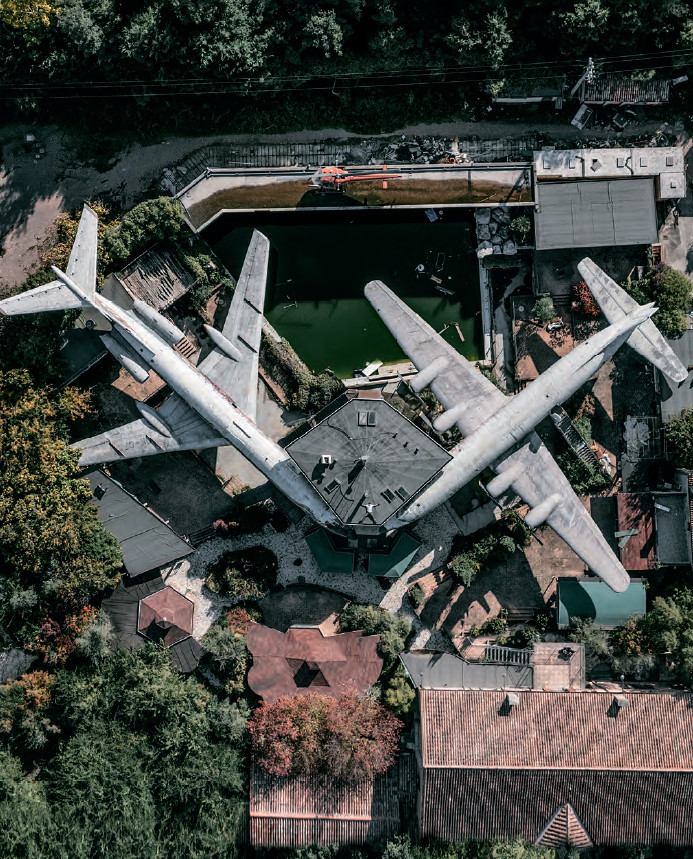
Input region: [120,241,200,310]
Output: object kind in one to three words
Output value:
shed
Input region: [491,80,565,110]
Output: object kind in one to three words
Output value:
shed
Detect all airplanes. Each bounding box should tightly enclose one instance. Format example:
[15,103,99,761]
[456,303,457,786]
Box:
[0,205,351,534]
[368,259,687,586]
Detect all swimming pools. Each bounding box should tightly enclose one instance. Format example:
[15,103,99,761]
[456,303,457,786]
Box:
[196,209,487,395]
